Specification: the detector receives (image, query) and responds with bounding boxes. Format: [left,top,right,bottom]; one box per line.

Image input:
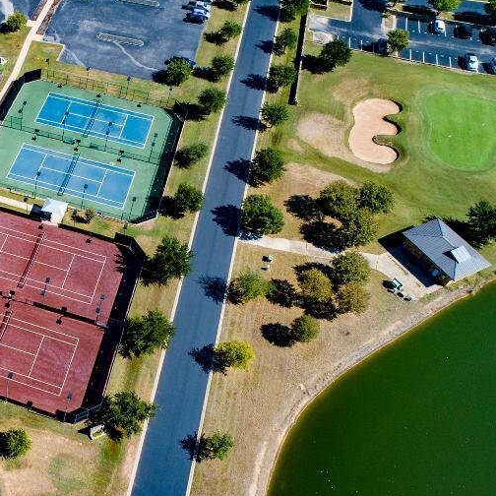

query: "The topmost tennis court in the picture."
[1,81,184,167]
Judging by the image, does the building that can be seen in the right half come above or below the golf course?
below it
